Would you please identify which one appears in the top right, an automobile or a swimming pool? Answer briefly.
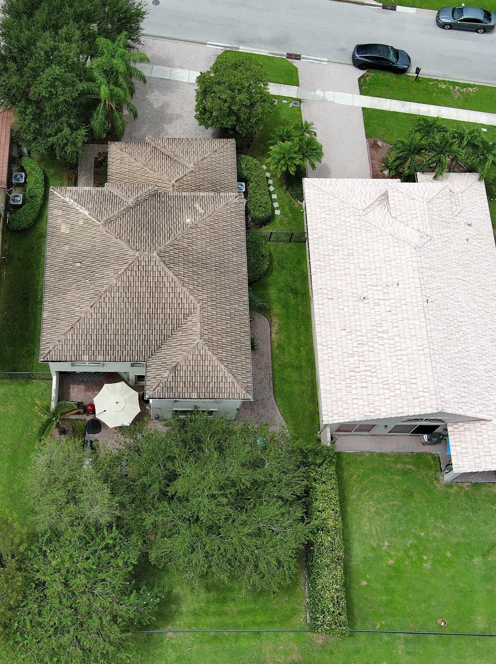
automobile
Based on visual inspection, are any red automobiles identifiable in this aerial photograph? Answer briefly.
No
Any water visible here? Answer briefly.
No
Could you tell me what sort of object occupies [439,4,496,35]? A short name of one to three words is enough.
car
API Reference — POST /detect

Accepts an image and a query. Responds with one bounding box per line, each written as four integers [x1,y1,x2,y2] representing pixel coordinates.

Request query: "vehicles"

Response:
[439,4,496,35]
[354,43,413,73]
